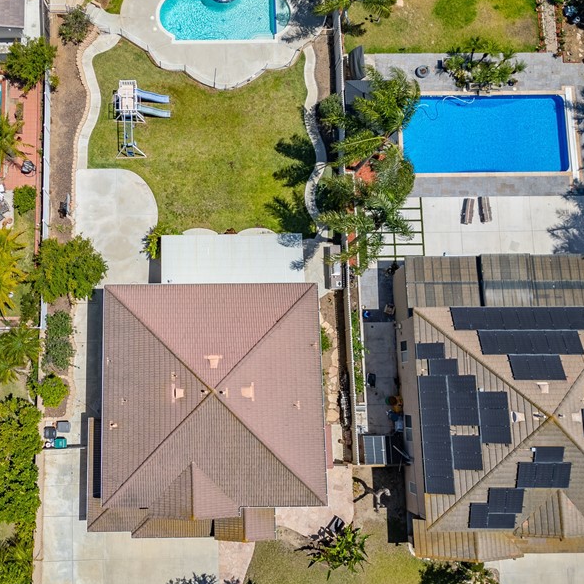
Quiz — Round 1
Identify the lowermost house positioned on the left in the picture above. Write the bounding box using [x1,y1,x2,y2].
[85,281,329,542]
